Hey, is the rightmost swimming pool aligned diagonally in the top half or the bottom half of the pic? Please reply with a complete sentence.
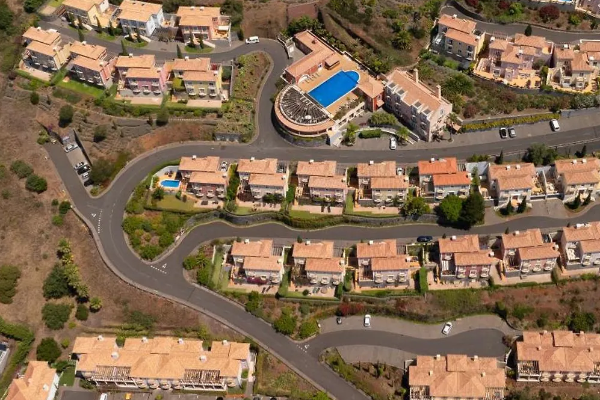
The top half of the photo is where the rightmost swimming pool aligned diagonally is.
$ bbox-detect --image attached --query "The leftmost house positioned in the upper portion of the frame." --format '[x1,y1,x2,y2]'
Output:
[10,20,73,82]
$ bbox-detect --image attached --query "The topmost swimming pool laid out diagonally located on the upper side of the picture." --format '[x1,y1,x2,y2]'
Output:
[307,69,361,110]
